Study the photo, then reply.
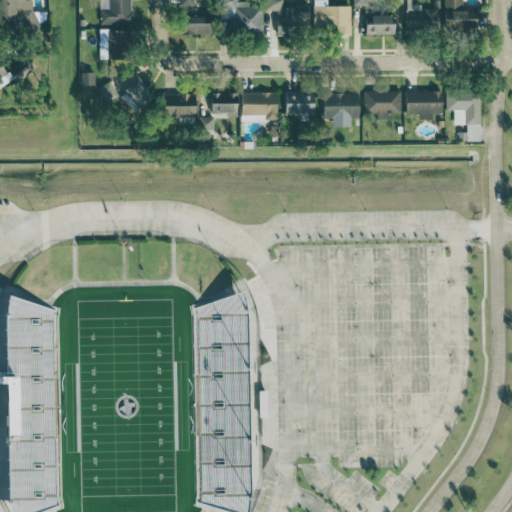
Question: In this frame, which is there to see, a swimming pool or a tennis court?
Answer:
swimming pool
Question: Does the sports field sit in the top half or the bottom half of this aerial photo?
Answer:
bottom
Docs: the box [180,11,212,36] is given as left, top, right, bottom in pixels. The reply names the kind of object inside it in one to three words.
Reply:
house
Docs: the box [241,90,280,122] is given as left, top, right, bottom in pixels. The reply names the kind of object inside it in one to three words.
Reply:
house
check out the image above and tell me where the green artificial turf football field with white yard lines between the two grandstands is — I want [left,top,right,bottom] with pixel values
[54,286,199,512]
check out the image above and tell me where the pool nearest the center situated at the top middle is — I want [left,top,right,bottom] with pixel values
[242,122,267,142]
